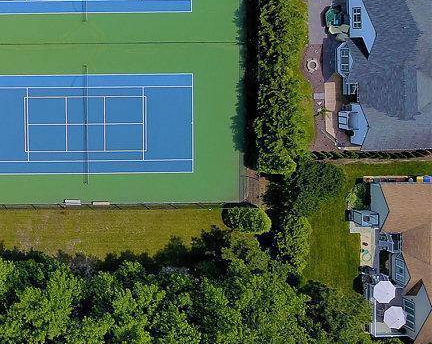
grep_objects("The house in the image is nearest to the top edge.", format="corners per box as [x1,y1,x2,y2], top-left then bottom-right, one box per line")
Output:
[336,0,432,153]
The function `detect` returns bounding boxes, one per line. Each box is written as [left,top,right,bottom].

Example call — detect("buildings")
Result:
[354,182,432,342]
[336,0,432,153]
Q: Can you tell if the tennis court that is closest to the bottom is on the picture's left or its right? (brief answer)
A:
left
